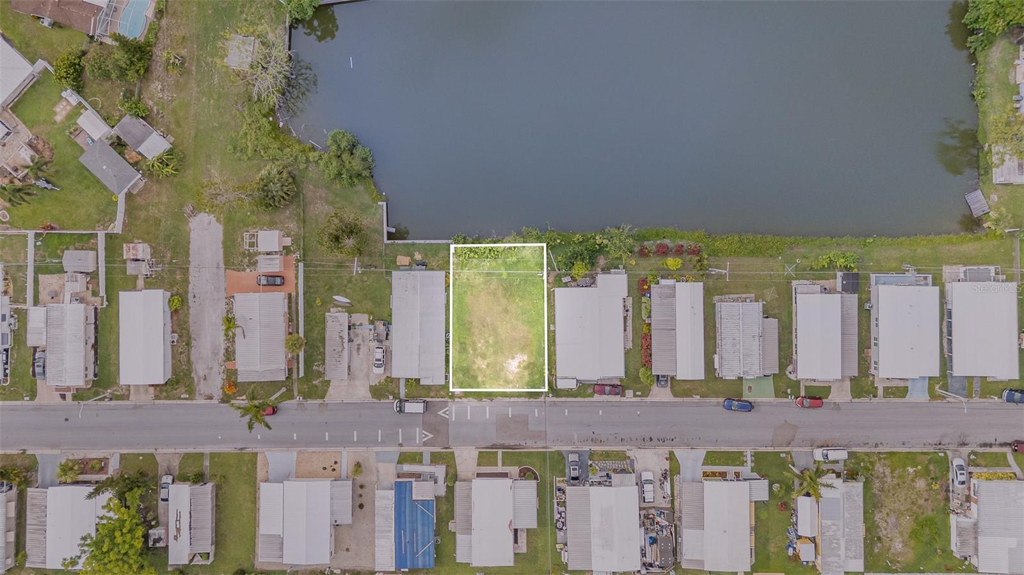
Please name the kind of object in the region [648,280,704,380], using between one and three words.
house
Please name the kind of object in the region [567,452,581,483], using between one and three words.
car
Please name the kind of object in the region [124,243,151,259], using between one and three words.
shed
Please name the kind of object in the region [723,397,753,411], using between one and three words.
car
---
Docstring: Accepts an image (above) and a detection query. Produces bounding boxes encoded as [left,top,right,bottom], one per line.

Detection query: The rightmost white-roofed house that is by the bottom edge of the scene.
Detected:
[942,476,1024,573]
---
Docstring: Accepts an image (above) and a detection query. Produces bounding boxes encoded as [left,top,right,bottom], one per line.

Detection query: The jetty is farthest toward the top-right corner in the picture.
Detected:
[963,190,990,217]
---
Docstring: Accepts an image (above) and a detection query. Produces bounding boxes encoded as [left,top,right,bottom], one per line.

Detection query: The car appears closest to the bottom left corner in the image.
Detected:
[158,474,174,502]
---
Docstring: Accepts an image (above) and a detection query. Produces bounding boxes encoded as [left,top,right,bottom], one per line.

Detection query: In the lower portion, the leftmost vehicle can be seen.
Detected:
[32,351,46,379]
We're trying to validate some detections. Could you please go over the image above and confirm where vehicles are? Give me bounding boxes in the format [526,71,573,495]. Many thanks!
[723,397,753,411]
[640,470,654,504]
[32,351,46,379]
[1001,389,1024,403]
[812,447,847,462]
[1008,439,1024,453]
[950,457,966,487]
[656,375,669,391]
[256,273,285,287]
[394,399,428,414]
[567,452,581,483]
[593,383,622,396]
[795,395,823,409]
[158,474,174,502]
[372,345,386,375]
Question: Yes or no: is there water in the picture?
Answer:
Yes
